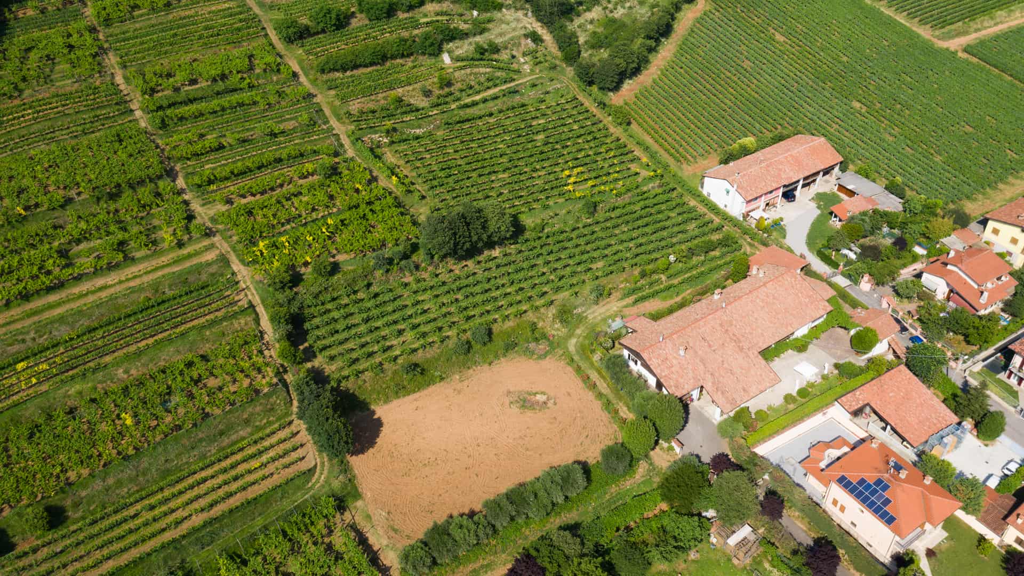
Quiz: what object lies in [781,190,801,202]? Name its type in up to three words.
vehicle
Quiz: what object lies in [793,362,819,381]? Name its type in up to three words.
umbrella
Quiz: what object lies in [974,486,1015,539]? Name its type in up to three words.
shed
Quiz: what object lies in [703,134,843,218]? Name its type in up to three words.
house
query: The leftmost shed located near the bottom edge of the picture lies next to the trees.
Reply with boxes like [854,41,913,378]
[721,522,762,574]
